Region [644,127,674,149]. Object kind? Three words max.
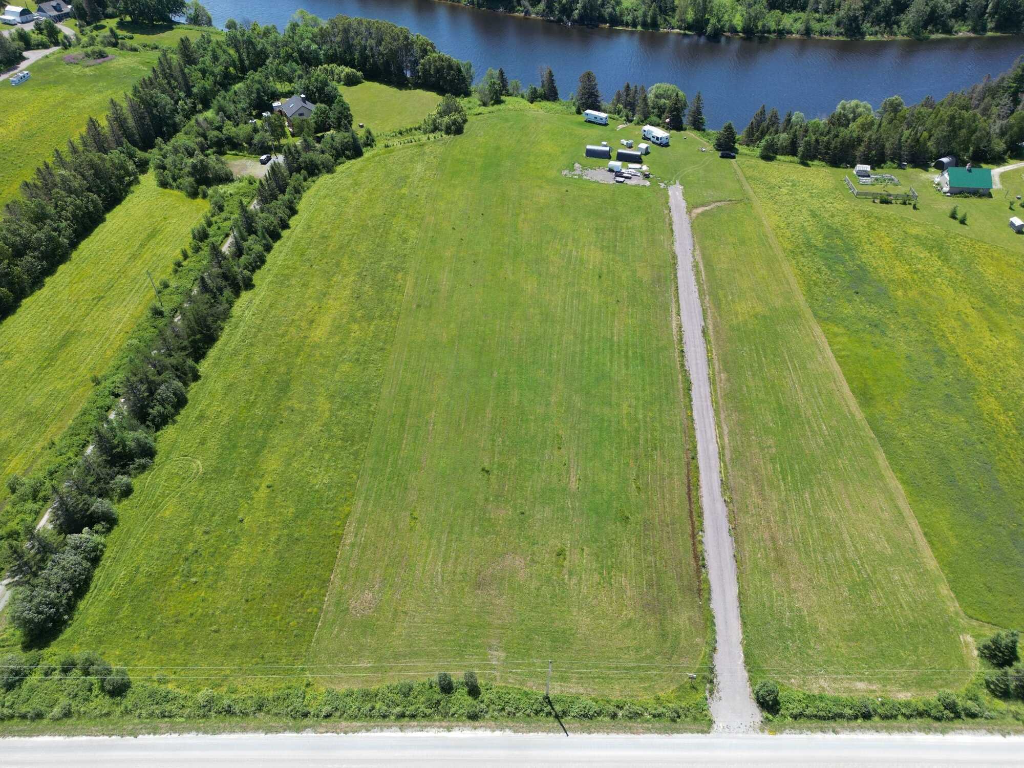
vehicle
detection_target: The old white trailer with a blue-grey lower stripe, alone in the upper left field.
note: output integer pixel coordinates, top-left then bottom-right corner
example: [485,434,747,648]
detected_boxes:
[3,68,30,84]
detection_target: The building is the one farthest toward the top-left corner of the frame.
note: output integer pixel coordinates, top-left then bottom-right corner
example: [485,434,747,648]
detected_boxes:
[3,2,36,24]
